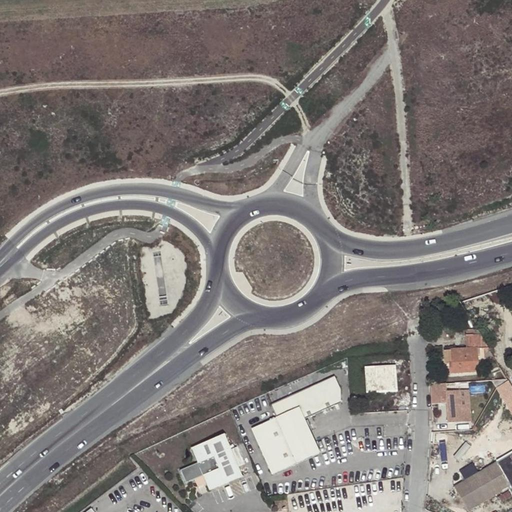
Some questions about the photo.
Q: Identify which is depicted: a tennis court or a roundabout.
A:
roundabout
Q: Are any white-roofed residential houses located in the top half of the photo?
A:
No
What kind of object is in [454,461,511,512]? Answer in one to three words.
barn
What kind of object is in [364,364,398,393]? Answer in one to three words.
building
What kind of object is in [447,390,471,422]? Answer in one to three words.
house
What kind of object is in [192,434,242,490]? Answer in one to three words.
house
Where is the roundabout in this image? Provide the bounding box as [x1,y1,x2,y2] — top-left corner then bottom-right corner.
[209,194,341,326]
